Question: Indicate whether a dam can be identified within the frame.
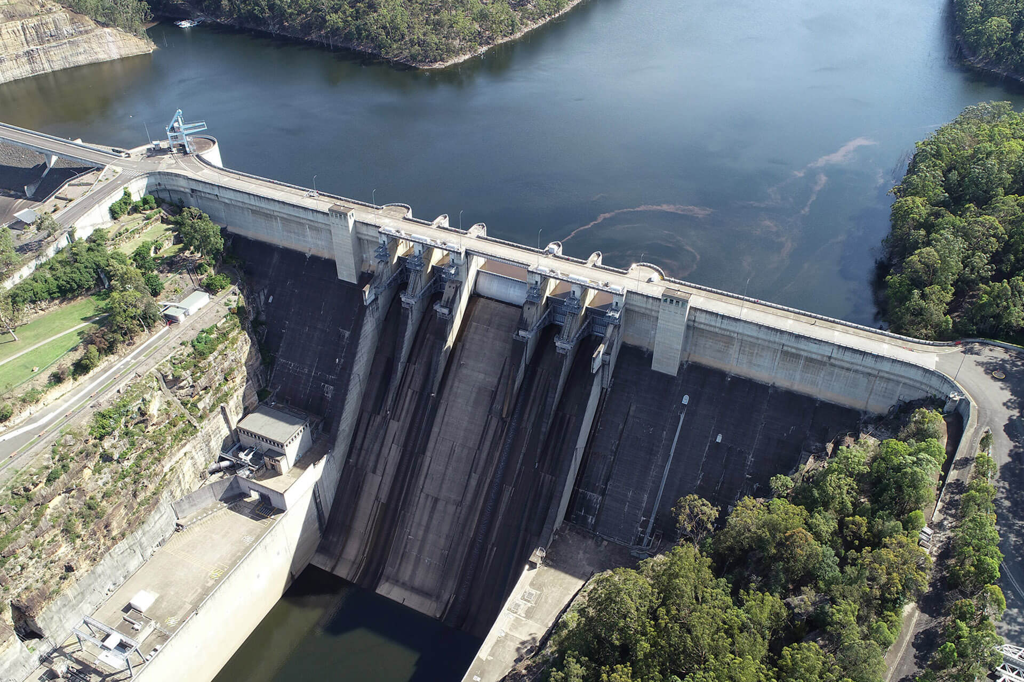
Yes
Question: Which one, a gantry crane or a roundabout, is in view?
gantry crane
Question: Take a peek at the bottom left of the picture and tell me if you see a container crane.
Yes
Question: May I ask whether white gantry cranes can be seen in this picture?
Yes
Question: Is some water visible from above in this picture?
Yes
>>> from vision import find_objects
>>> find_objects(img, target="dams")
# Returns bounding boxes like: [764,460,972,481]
[114,134,980,635]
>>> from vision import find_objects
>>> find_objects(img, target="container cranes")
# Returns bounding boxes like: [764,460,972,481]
[162,105,218,155]
[67,611,143,674]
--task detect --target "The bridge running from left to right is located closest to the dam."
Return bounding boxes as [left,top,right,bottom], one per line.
[0,122,125,191]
